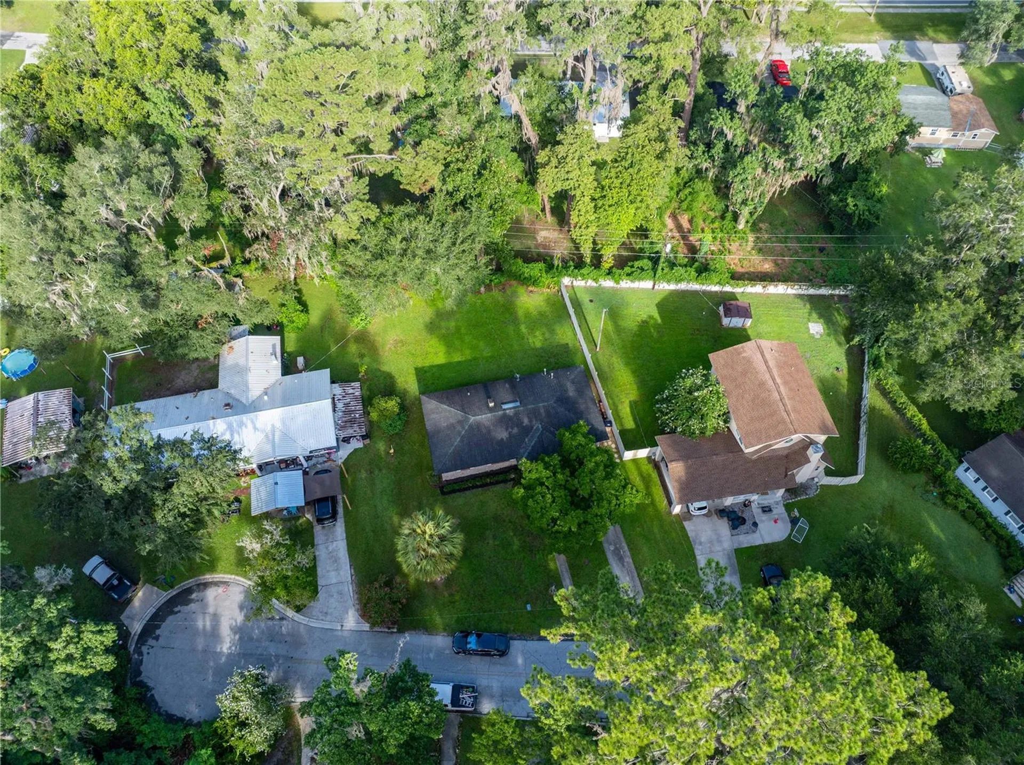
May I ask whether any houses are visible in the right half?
Yes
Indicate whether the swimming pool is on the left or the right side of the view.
left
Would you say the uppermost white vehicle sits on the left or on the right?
right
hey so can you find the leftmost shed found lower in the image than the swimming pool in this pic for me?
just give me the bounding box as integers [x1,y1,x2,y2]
[1,389,83,476]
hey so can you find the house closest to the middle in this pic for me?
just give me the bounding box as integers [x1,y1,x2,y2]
[421,366,609,497]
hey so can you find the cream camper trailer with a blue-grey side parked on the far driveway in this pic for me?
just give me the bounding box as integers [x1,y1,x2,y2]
[935,66,973,91]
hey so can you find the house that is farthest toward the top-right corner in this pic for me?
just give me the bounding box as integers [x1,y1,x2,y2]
[892,86,1006,155]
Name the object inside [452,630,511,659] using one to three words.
car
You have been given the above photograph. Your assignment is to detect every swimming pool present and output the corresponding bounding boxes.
[3,353,45,381]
